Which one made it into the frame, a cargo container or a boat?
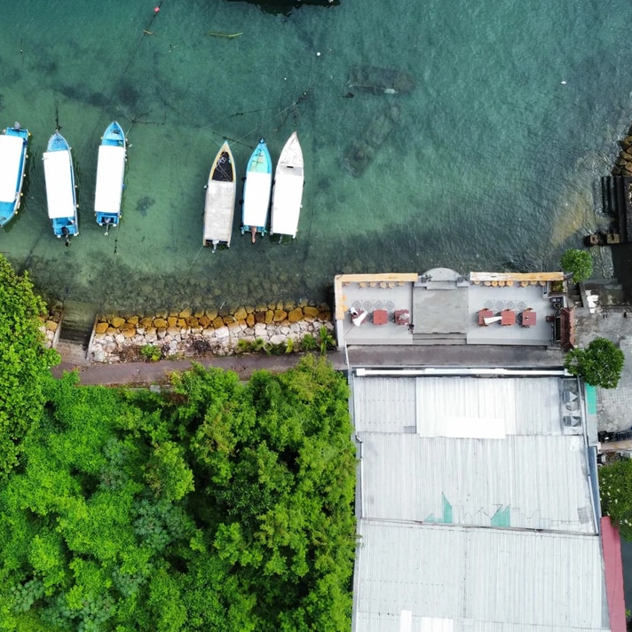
boat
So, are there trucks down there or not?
No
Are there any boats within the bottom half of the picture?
No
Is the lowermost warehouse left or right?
right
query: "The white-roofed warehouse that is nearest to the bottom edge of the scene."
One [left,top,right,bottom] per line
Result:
[343,366,624,632]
